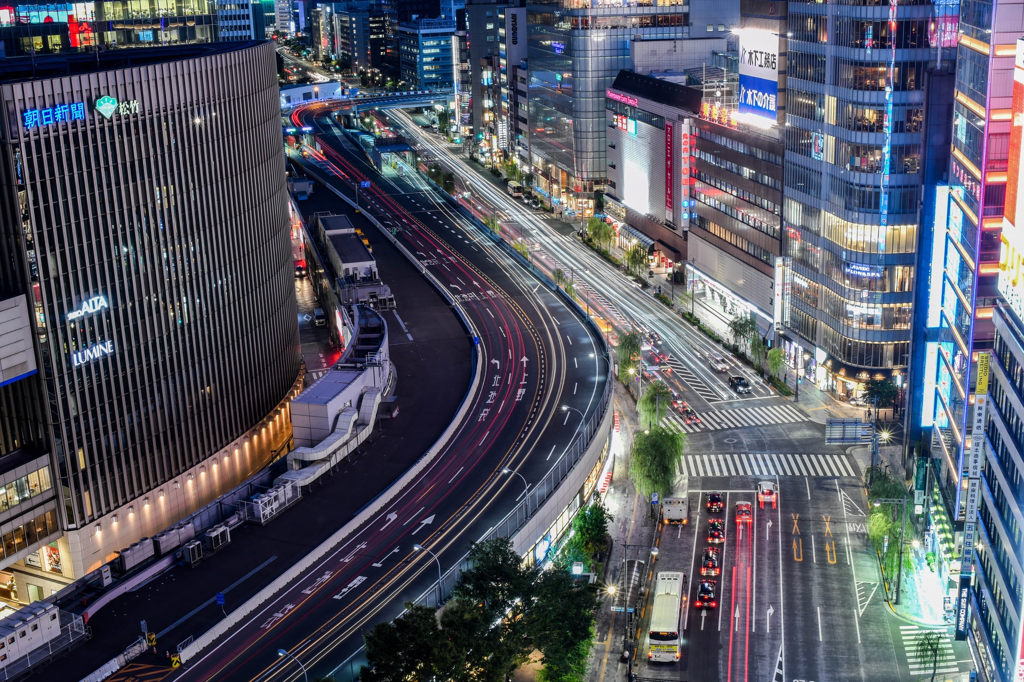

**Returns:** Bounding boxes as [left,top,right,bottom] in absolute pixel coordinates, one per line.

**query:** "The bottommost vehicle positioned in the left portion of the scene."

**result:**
[313,307,326,325]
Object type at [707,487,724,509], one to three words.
car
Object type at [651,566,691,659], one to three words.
bus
